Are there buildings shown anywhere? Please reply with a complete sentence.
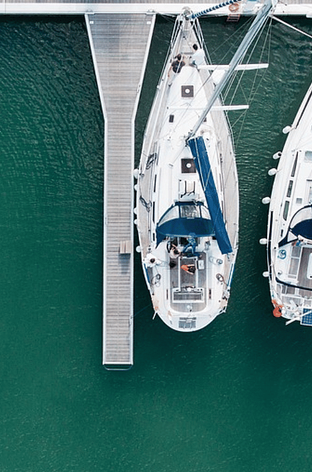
No, I find no building anywhere in the image.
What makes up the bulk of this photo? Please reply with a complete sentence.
Most of the picture is covered by water.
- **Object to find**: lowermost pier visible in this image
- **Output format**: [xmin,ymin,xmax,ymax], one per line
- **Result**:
[86,12,155,371]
